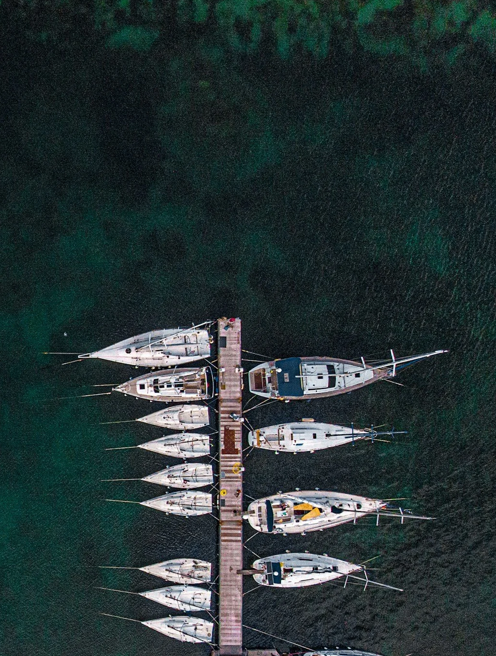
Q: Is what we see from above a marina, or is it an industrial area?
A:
marina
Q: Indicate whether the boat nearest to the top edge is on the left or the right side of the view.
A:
left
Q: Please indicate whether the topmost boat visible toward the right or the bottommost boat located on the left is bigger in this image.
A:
the topmost boat visible toward the right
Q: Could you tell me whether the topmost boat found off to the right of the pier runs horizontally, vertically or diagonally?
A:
horizontally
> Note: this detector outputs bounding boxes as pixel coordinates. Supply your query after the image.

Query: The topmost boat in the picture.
[79,320,216,367]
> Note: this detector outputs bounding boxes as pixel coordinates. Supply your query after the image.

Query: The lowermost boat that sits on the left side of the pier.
[142,616,214,644]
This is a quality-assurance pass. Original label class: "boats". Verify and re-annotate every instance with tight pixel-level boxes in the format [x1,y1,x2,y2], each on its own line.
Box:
[142,464,214,488]
[115,366,214,401]
[249,551,407,591]
[248,421,413,451]
[243,349,449,400]
[138,585,211,612]
[139,558,211,584]
[79,320,216,367]
[139,491,211,516]
[244,488,437,532]
[137,405,209,429]
[137,433,210,458]
[142,616,214,644]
